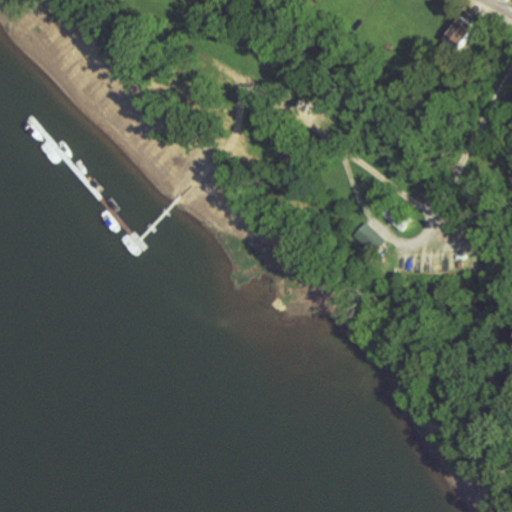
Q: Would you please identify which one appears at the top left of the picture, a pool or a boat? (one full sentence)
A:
Looking at the top left of the picture, you will find a boat.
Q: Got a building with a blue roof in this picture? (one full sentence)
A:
No, there appears to be no building with a blue roof in this shot.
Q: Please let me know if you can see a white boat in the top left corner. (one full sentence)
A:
Yes, the scene does show a white boat in the top left corner.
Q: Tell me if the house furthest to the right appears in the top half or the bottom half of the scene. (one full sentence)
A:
It is in the top half that the house furthest to the right appears.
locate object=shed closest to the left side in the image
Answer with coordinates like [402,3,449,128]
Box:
[354,223,385,253]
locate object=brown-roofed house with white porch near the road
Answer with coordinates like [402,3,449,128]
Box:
[444,16,472,48]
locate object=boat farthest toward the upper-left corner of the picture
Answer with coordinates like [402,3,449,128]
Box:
[27,125,43,142]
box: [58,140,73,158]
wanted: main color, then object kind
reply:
white boat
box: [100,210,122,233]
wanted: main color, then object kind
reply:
white boat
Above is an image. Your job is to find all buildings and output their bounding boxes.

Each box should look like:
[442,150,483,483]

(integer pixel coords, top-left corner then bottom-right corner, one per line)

[388,212,416,234]
[354,223,385,253]
[444,16,472,48]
